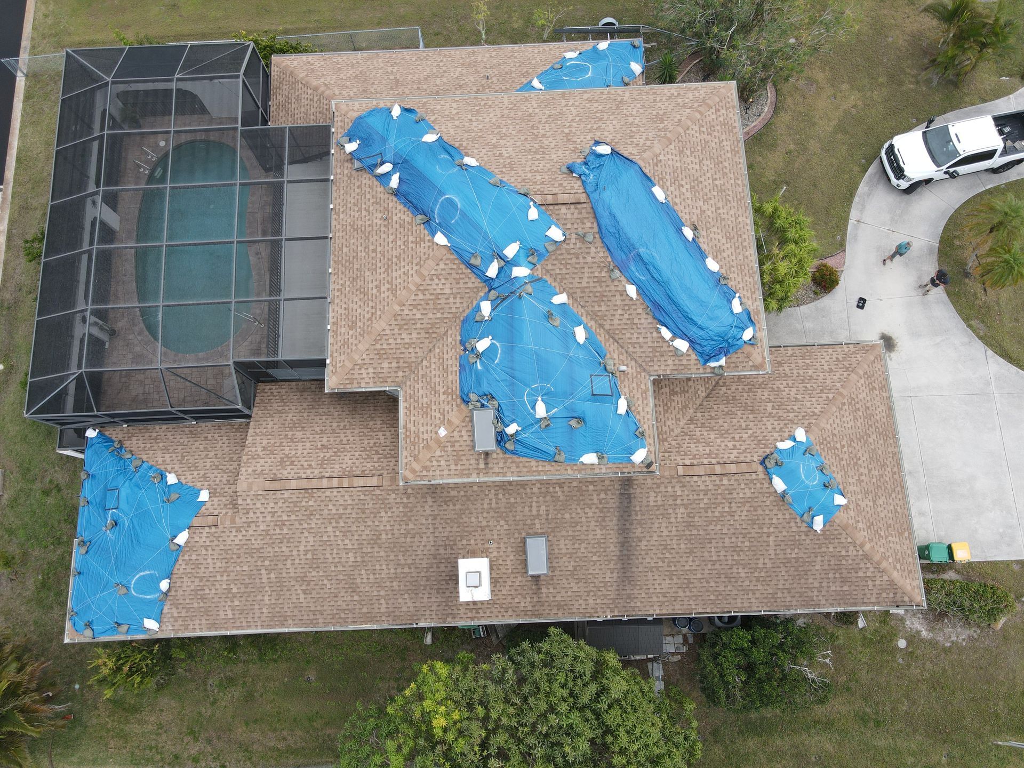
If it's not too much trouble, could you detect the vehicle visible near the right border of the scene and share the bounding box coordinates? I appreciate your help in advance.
[879,108,1024,196]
